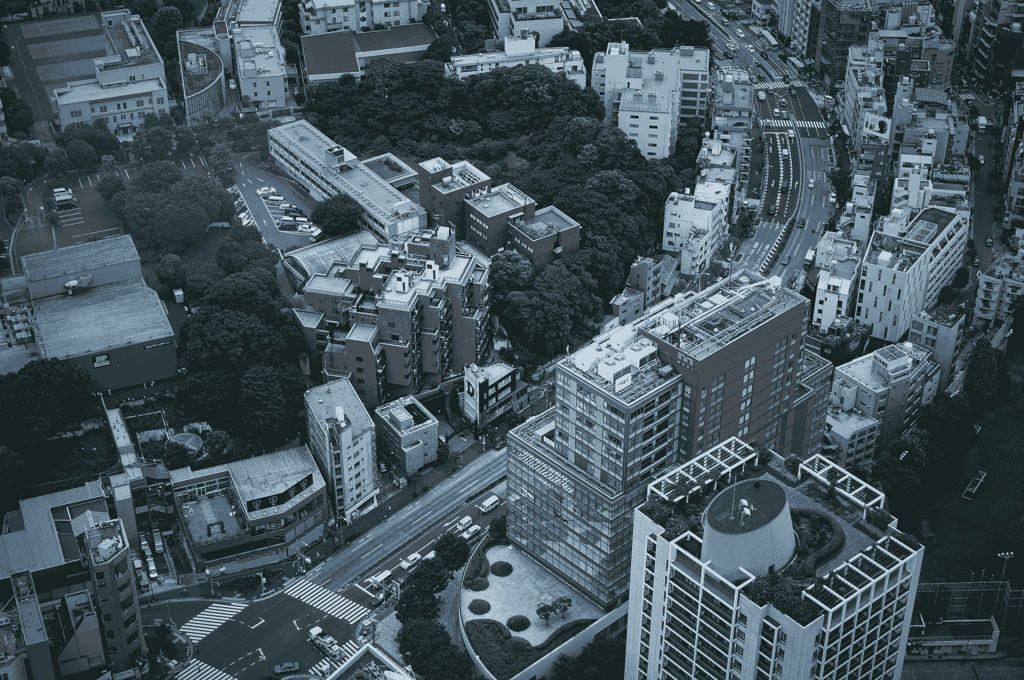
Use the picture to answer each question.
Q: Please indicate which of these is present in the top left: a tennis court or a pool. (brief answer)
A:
tennis court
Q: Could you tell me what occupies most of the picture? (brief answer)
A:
buildings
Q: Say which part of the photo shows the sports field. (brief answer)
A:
bottom right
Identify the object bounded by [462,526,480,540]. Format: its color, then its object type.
white car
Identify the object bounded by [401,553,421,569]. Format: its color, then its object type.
white car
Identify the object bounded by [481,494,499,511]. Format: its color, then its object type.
white vehicle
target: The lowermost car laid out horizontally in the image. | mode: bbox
[275,663,299,675]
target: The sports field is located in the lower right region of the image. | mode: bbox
[905,360,1024,659]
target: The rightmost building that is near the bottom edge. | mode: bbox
[901,615,1000,669]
